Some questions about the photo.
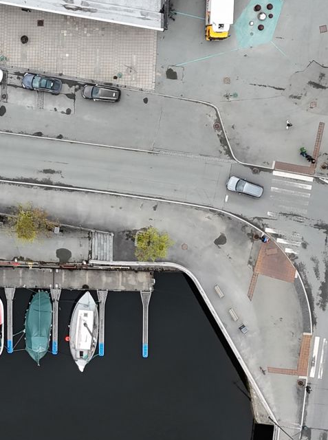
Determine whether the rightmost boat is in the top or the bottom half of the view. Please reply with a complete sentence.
The bottom half of the photo is where the rightmost boat is.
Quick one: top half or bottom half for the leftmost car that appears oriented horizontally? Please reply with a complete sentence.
Seen from above, the leftmost car that appears oriented horizontally lies in the top half of the view.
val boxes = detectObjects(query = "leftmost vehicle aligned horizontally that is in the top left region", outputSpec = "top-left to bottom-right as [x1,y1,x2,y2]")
[20,73,62,95]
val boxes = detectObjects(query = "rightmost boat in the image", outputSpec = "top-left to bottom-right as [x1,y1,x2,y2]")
[63,292,99,372]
